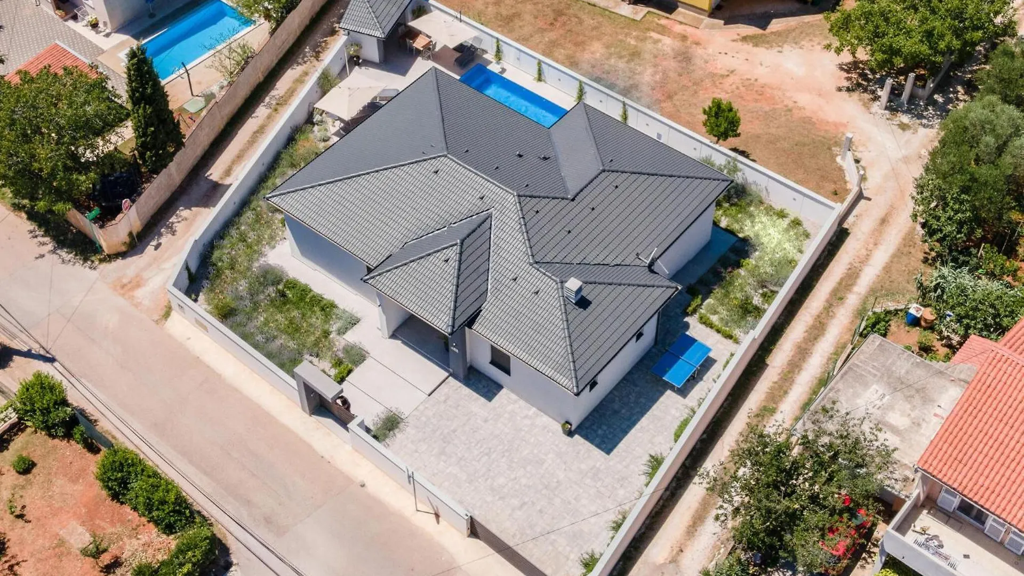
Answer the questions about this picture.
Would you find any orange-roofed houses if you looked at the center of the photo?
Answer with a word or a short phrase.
No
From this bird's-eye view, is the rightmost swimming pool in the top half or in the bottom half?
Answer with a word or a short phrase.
top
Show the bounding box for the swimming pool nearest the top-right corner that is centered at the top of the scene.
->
[459,64,568,127]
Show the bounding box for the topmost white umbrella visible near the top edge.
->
[407,2,477,52]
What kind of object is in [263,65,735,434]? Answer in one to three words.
house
